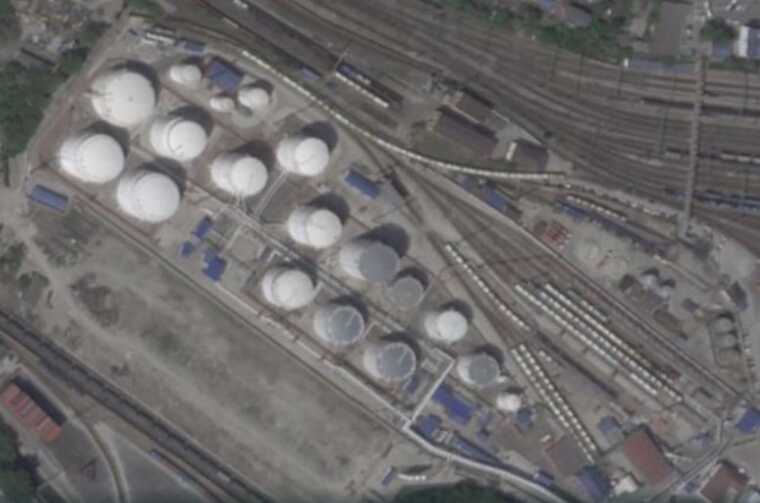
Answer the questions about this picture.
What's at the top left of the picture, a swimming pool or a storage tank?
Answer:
storage tank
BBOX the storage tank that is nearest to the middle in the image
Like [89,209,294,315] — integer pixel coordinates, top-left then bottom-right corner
[338,237,399,283]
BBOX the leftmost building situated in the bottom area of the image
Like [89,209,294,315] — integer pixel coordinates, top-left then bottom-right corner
[0,379,63,443]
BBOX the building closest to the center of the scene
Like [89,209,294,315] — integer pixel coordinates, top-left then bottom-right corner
[340,169,381,198]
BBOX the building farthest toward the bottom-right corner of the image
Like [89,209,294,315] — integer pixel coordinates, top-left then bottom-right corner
[695,460,753,503]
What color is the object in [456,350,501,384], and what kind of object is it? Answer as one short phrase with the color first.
gray storage tank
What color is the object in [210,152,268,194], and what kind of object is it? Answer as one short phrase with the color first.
white storage tank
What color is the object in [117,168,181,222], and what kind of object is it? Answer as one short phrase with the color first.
white storage tank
